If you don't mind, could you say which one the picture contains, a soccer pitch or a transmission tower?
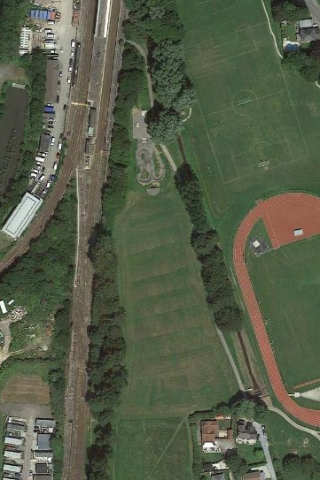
soccer pitch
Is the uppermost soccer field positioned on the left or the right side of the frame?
right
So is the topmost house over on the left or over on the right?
right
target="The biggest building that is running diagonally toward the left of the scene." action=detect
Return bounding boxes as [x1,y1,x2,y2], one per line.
[1,192,42,239]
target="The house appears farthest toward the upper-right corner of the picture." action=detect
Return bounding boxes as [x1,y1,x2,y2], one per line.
[300,19,320,43]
